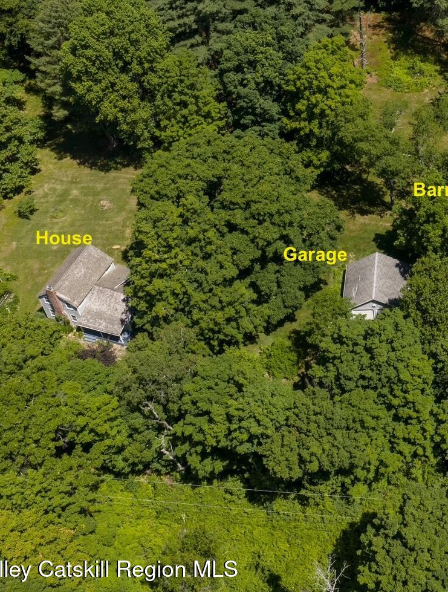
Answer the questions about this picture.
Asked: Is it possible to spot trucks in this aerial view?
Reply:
No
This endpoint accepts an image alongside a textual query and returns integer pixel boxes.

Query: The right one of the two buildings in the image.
[340,252,409,323]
